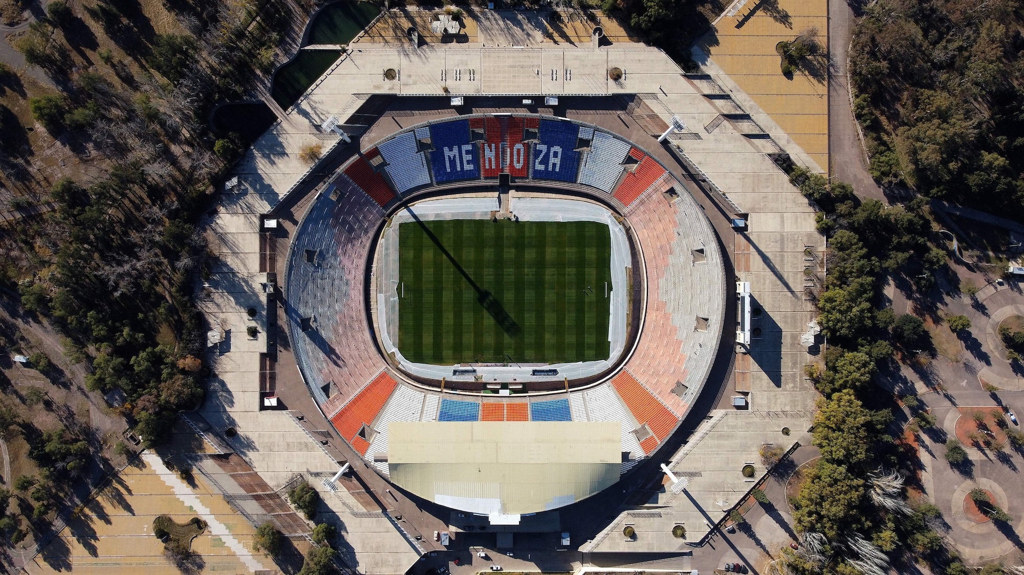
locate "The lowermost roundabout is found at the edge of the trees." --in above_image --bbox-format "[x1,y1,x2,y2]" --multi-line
[952,479,1007,534]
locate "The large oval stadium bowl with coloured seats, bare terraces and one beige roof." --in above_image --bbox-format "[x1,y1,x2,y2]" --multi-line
[282,111,728,548]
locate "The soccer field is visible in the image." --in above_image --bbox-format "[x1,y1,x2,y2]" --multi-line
[398,218,612,366]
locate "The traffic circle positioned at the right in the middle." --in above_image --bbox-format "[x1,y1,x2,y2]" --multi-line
[988,299,1024,362]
